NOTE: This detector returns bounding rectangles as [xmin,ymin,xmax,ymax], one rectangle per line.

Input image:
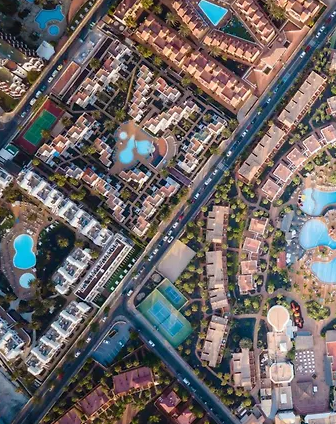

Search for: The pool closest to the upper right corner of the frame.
[198,0,228,26]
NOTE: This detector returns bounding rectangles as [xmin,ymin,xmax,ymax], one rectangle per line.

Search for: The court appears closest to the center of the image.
[156,278,188,313]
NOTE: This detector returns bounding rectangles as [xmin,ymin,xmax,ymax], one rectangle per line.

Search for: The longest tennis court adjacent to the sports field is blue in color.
[135,290,192,348]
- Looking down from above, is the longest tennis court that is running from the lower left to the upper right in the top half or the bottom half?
top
